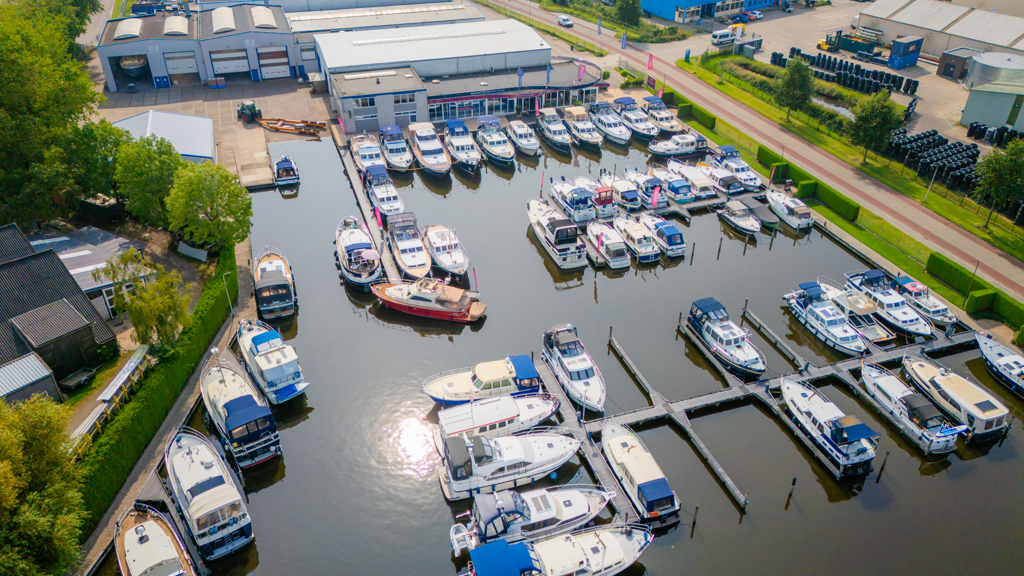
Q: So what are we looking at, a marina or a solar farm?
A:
marina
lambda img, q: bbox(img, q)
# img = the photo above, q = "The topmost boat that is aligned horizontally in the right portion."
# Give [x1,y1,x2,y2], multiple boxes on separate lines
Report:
[647,134,714,158]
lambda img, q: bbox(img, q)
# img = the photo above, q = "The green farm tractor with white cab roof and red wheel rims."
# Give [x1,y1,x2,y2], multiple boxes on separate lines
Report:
[234,100,263,120]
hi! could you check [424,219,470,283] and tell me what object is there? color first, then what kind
white boat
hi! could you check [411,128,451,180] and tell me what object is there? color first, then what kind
white boat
